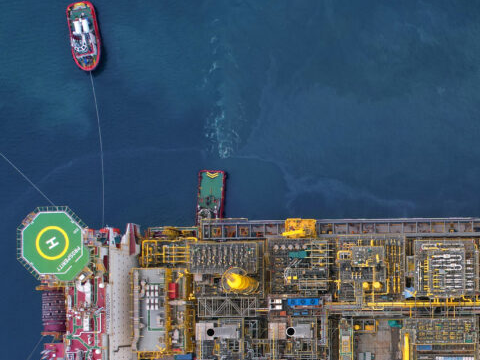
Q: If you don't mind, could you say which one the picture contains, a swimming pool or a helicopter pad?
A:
helicopter pad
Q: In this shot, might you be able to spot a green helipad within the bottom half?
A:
Yes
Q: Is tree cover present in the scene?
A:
No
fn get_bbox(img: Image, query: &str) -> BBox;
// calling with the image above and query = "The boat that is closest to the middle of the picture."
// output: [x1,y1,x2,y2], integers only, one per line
[195,170,225,229]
